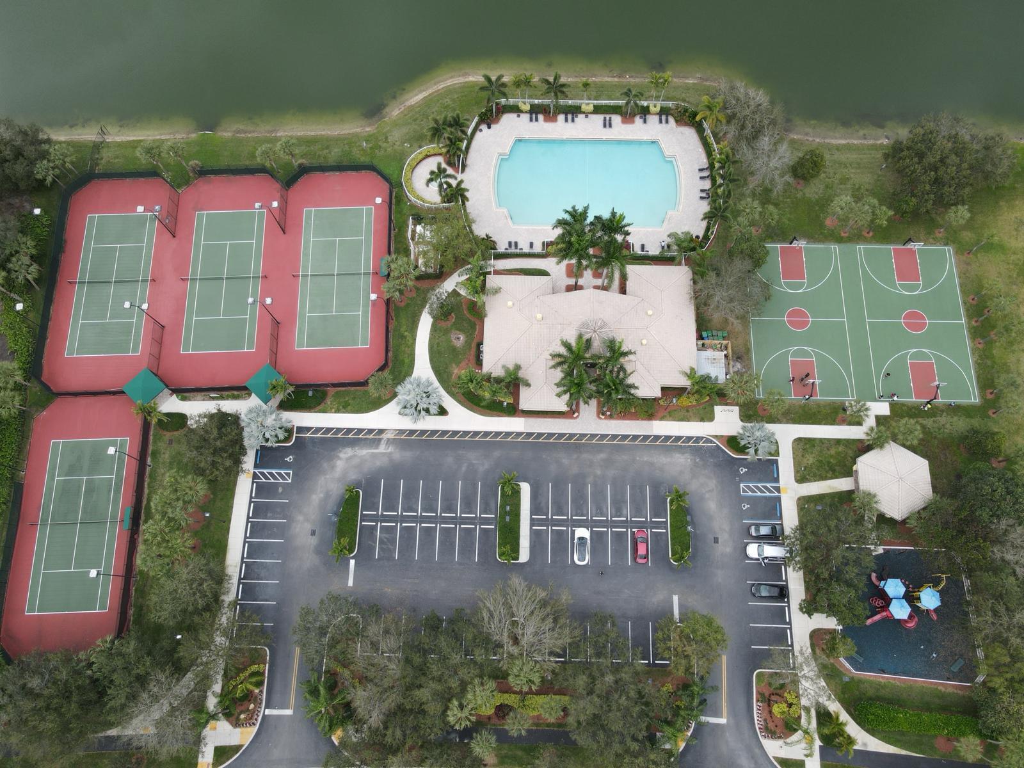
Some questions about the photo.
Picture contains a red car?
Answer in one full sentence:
Yes, a red car is visible in the scene.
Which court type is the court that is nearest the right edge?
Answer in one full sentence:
It looks like the court that is nearest the right edge is a basketball court.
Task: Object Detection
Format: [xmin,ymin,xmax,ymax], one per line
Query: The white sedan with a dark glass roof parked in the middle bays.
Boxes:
[573,528,590,565]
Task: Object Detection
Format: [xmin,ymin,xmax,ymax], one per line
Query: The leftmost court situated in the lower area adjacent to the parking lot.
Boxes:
[0,394,149,662]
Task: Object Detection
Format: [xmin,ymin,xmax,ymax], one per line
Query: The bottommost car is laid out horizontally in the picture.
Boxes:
[750,582,788,600]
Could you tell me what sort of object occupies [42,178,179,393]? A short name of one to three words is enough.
tennis court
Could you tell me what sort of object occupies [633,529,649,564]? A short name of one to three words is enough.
car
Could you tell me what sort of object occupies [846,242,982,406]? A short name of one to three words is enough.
basketball court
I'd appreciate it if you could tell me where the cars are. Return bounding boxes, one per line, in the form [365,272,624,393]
[744,543,786,567]
[633,529,649,564]
[573,528,590,565]
[747,522,783,539]
[750,582,788,600]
